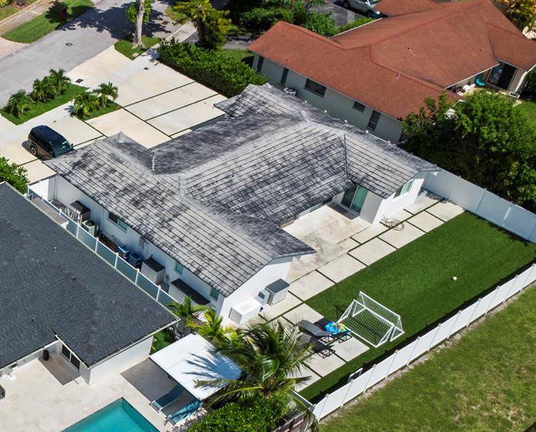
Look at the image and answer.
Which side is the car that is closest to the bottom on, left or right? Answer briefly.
left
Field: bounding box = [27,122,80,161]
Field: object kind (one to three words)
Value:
car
